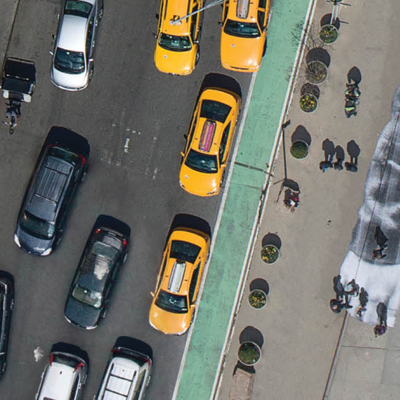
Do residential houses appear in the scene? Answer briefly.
No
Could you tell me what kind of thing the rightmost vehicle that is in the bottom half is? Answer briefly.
automobile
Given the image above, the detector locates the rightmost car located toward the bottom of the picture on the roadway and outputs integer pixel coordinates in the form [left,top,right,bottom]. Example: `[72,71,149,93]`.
[146,226,211,337]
